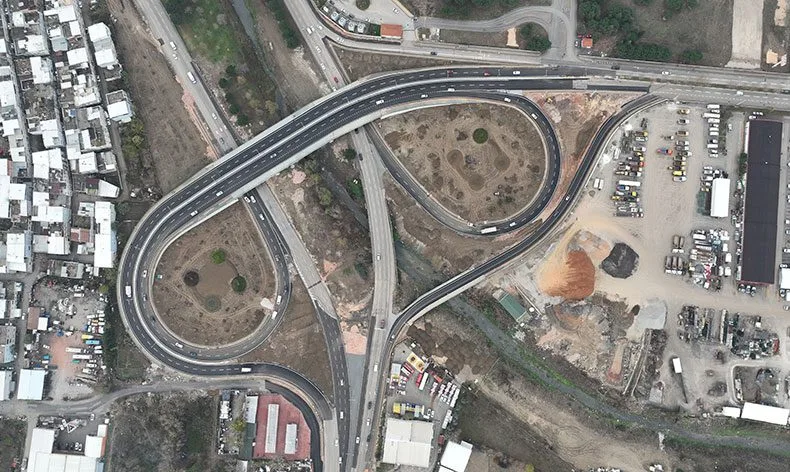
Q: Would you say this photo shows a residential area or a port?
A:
residential area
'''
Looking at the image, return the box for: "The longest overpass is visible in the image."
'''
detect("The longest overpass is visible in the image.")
[198,69,436,212]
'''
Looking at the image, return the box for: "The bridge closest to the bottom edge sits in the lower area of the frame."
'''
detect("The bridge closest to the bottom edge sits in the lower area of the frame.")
[403,252,507,319]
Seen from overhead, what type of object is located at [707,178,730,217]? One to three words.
shed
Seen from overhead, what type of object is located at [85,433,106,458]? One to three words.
building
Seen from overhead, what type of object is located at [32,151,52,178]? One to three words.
house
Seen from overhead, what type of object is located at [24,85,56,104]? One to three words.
house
